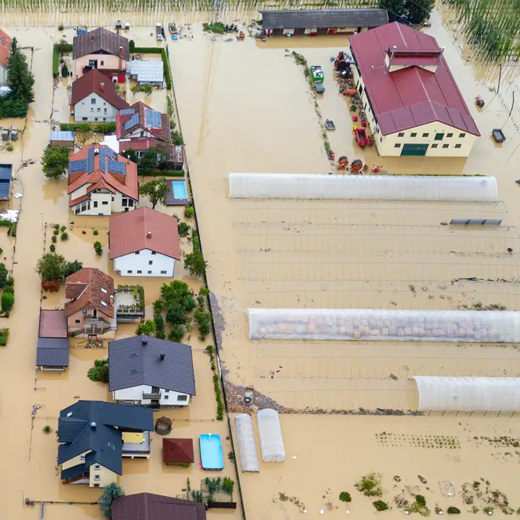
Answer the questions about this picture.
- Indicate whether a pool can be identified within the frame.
Yes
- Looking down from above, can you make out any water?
Yes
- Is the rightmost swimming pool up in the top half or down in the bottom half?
bottom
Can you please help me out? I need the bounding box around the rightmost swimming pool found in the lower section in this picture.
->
[199,433,223,474]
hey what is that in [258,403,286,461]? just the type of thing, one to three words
greenhouse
